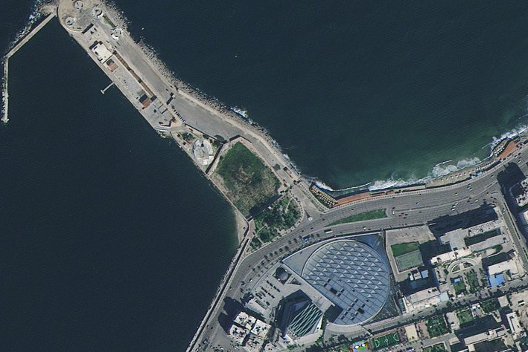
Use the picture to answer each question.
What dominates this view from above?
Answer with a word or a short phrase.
water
